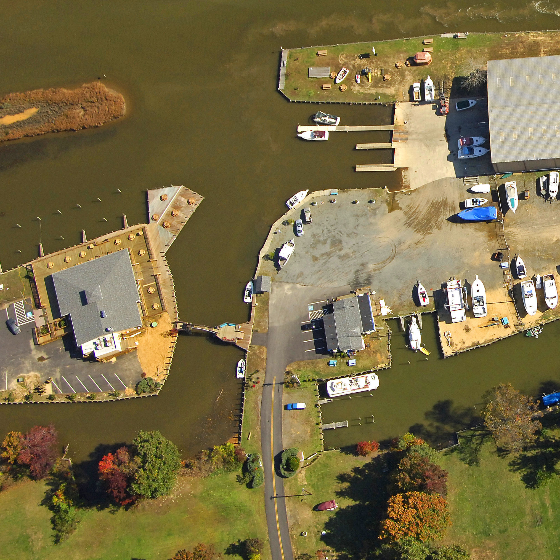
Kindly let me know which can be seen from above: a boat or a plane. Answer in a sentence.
This aerial view contains a boat.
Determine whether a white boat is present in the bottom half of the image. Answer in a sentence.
Yes, a white boat is visible in the bottom half of the image.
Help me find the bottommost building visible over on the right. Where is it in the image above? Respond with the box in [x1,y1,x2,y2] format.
[324,288,380,358]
